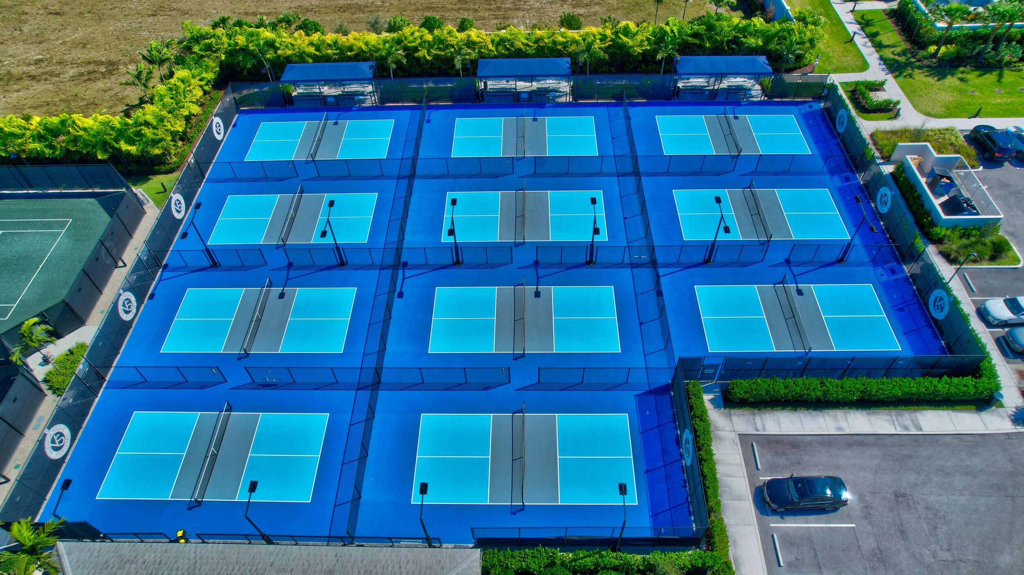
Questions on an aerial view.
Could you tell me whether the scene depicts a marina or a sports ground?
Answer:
sports ground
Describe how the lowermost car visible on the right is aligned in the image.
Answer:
horizontally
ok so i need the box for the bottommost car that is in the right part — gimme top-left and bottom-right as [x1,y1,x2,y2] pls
[761,472,852,513]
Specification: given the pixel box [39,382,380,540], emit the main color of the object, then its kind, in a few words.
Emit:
blue sports court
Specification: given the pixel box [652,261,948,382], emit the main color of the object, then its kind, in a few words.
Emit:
blue sports court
